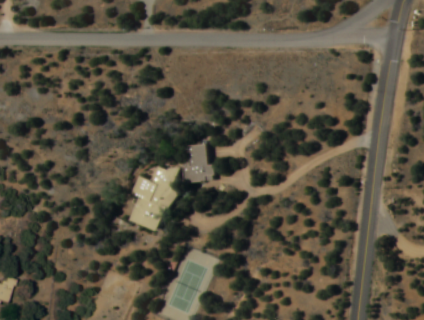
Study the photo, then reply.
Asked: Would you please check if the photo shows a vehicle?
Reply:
No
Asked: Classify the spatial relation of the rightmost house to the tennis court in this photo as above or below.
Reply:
above it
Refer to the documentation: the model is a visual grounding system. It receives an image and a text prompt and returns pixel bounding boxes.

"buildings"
[184,144,214,182]
[129,166,180,232]
[0,279,18,304]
